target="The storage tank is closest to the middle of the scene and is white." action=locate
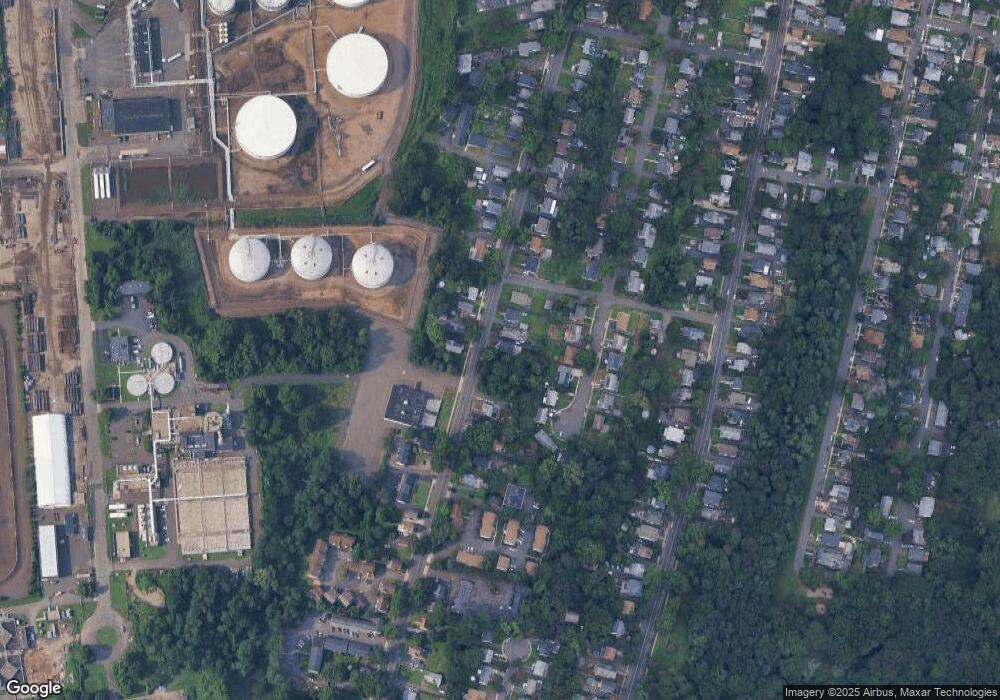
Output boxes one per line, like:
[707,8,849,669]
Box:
[352,243,395,287]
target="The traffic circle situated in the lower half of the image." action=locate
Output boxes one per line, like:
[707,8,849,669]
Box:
[80,597,130,661]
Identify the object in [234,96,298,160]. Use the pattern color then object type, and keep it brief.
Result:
white storage tank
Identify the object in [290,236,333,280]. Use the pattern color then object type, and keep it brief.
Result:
white storage tank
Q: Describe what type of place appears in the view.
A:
residential area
